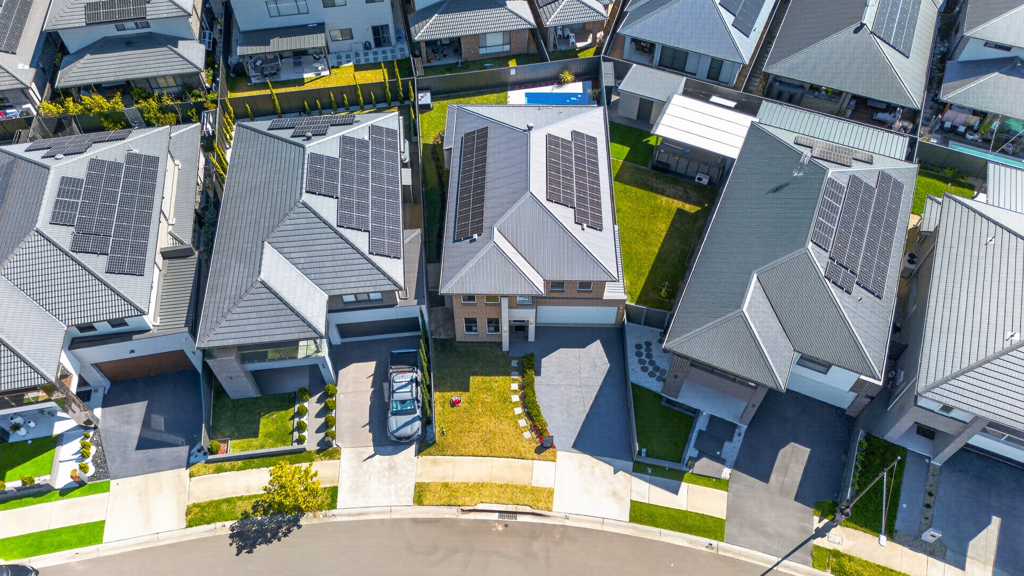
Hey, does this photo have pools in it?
Yes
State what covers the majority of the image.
buildings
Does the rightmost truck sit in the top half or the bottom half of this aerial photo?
bottom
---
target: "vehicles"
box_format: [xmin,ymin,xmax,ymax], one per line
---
[0,559,42,576]
[377,345,422,440]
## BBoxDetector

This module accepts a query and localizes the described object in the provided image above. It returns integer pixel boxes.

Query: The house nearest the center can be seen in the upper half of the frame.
[437,104,631,351]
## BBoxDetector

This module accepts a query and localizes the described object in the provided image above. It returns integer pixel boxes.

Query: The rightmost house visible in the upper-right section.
[930,0,1024,148]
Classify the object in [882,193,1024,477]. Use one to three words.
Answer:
house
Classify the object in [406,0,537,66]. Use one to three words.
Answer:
house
